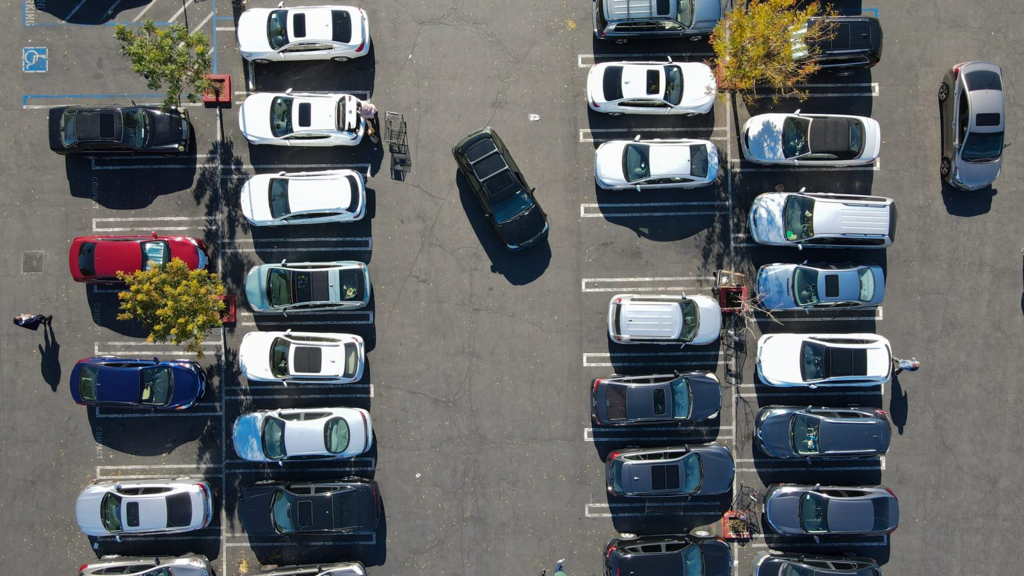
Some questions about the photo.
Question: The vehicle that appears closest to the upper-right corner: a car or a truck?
car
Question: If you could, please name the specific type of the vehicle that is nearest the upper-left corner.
automobile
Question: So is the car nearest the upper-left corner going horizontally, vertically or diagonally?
horizontally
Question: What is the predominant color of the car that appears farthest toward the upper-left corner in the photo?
black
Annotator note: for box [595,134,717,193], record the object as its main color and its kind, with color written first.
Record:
white car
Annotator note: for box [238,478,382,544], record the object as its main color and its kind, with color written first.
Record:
black car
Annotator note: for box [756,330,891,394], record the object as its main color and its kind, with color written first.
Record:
white car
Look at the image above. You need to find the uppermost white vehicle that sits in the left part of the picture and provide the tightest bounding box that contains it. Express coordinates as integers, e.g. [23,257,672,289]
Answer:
[238,0,370,64]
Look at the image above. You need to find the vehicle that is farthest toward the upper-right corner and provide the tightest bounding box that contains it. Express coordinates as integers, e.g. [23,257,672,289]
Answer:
[938,61,1011,190]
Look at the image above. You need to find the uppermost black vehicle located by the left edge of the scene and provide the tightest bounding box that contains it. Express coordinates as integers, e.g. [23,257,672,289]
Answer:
[50,100,190,160]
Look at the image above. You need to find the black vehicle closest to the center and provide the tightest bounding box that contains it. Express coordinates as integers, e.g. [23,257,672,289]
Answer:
[453,125,548,253]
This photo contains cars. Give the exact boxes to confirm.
[756,330,891,394]
[50,100,190,160]
[595,134,717,193]
[247,558,366,576]
[234,406,373,469]
[748,187,896,253]
[238,478,382,544]
[242,165,366,231]
[77,479,214,543]
[81,554,215,576]
[453,125,548,253]
[71,355,206,417]
[241,327,365,391]
[751,551,881,576]
[754,257,884,317]
[763,482,898,543]
[238,0,370,64]
[248,256,371,318]
[753,404,891,465]
[241,87,366,149]
[606,444,733,504]
[604,535,731,576]
[608,289,720,351]
[591,370,719,432]
[938,61,1011,190]
[592,0,720,45]
[71,231,209,285]
[741,107,879,169]
[751,9,882,72]
[587,56,716,118]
